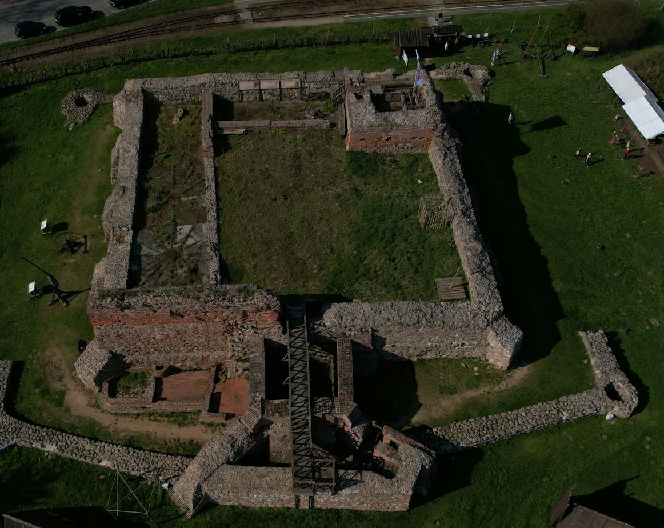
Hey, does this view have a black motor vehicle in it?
Yes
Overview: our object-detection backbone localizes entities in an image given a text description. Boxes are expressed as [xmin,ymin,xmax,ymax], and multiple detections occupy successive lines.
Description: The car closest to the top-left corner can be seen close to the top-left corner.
[10,19,47,38]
